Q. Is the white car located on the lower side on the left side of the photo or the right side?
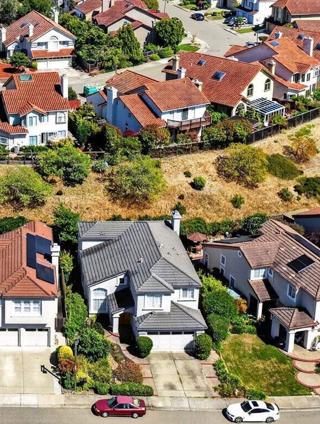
right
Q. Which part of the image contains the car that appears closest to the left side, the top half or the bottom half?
bottom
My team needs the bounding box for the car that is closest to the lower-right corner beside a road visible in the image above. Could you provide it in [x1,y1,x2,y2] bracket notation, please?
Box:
[224,397,284,424]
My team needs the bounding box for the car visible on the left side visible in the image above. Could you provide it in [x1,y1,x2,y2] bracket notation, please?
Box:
[93,394,148,420]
